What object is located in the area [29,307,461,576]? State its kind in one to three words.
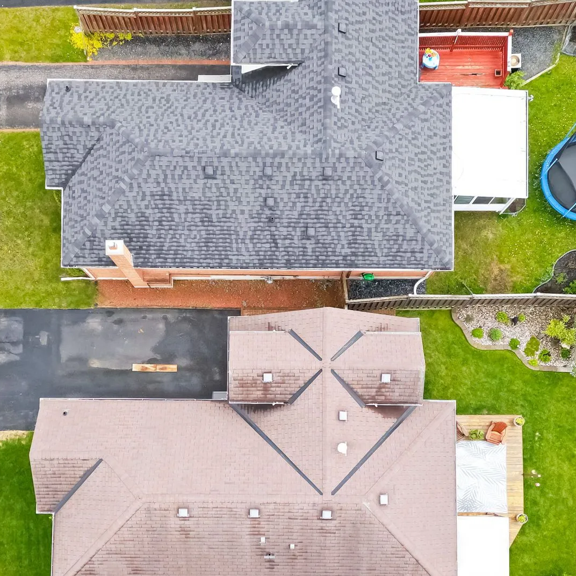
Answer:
house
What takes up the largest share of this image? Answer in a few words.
buildings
